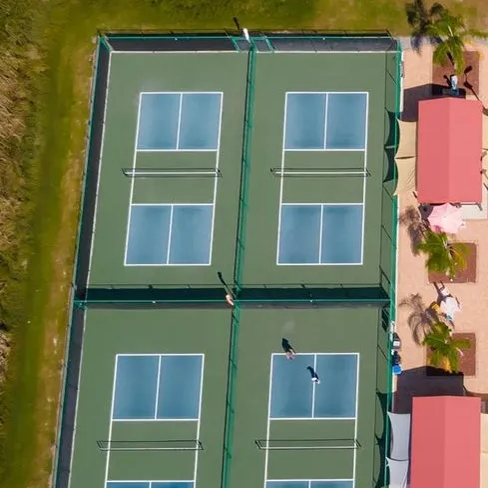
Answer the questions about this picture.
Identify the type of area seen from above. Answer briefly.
sports ground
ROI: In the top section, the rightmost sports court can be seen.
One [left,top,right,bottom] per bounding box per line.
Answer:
[240,50,400,303]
